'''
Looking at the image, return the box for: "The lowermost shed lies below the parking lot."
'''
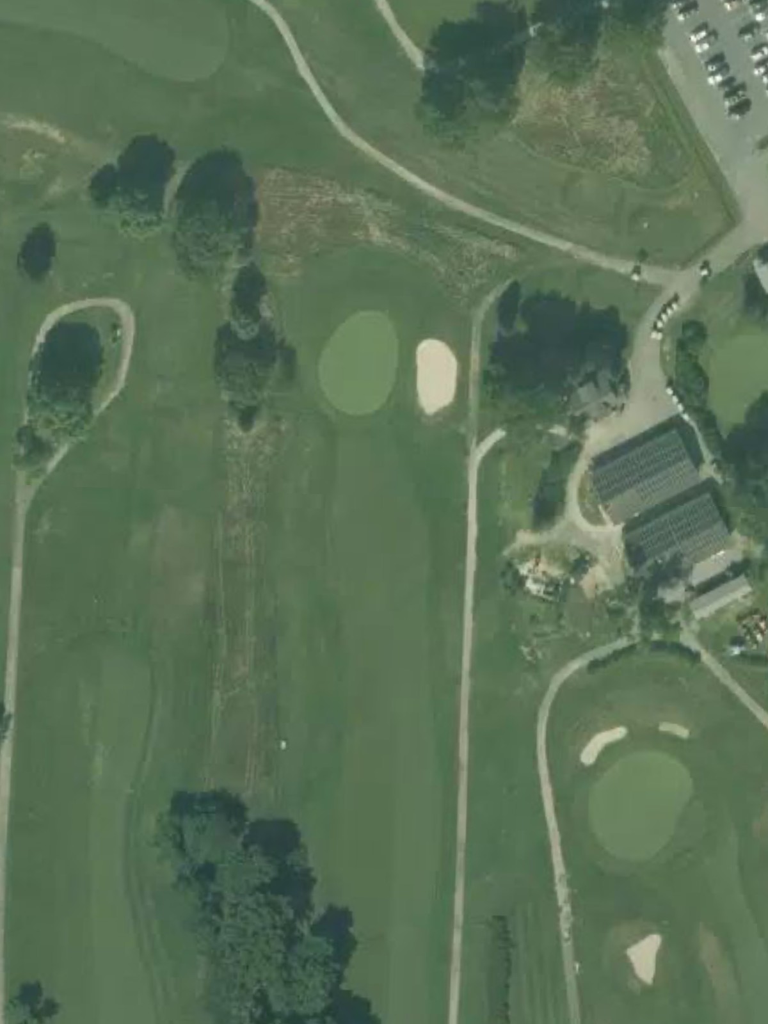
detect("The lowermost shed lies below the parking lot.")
[690,576,752,618]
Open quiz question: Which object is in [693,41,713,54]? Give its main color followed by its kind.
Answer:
white vehicle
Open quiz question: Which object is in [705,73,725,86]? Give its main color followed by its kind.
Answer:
white vehicle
